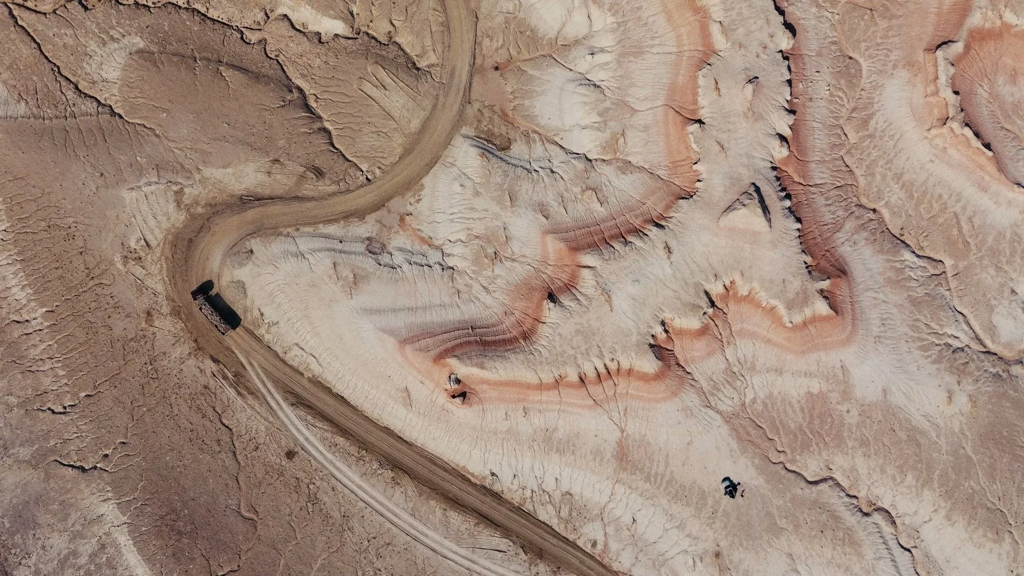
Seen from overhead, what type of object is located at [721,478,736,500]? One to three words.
car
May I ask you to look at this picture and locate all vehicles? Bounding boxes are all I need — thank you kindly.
[190,286,238,337]
[721,478,736,500]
